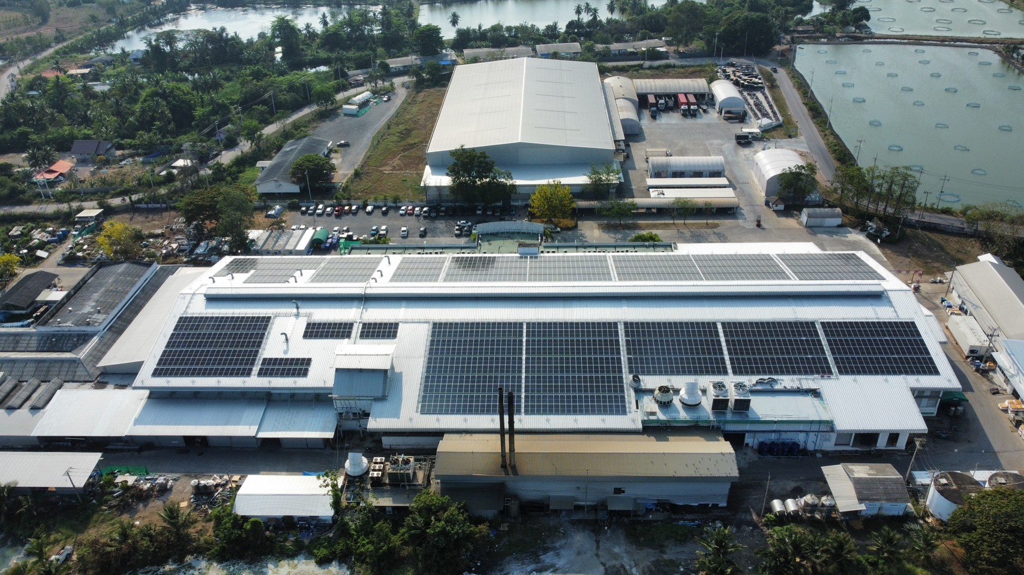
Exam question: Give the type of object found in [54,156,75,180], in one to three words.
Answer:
house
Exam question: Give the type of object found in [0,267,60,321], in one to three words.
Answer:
shed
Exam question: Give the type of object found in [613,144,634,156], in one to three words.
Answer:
vehicle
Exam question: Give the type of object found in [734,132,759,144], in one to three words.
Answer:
vehicle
